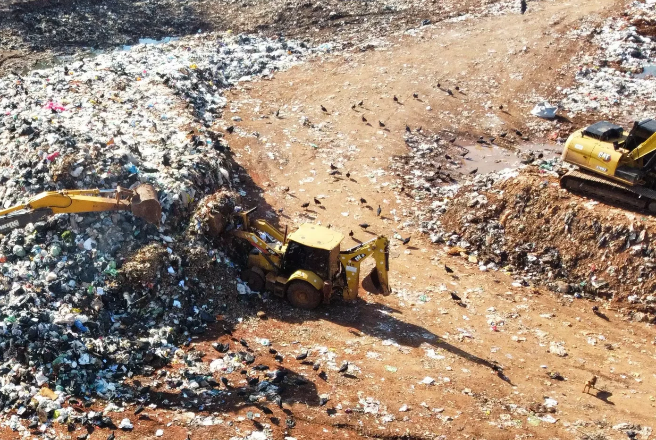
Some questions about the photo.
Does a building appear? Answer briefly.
No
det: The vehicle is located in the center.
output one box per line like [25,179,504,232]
[215,203,398,320]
